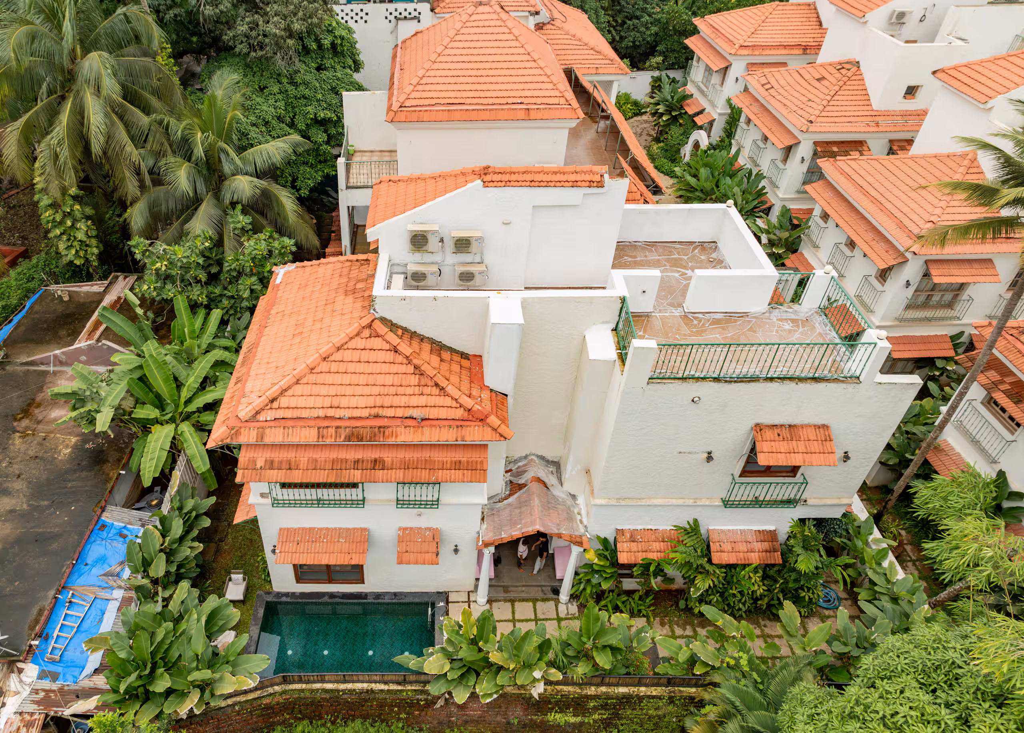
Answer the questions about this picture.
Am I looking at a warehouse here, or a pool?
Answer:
pool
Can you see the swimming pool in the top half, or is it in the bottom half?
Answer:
bottom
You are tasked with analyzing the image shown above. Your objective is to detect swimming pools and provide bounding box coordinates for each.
[235,591,448,684]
